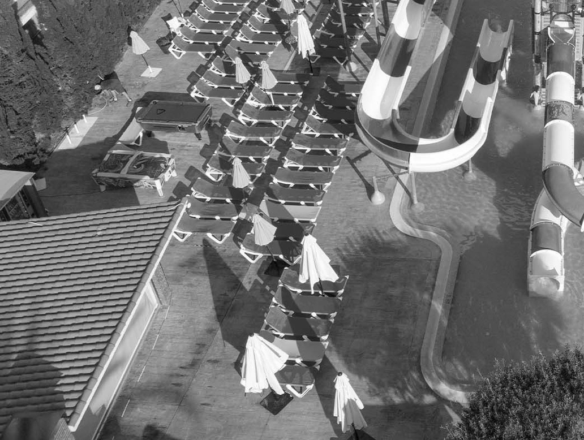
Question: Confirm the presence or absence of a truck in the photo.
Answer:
No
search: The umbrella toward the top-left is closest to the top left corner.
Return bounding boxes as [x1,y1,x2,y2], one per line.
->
[132,32,151,70]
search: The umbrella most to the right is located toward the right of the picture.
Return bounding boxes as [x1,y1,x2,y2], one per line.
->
[330,372,374,440]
